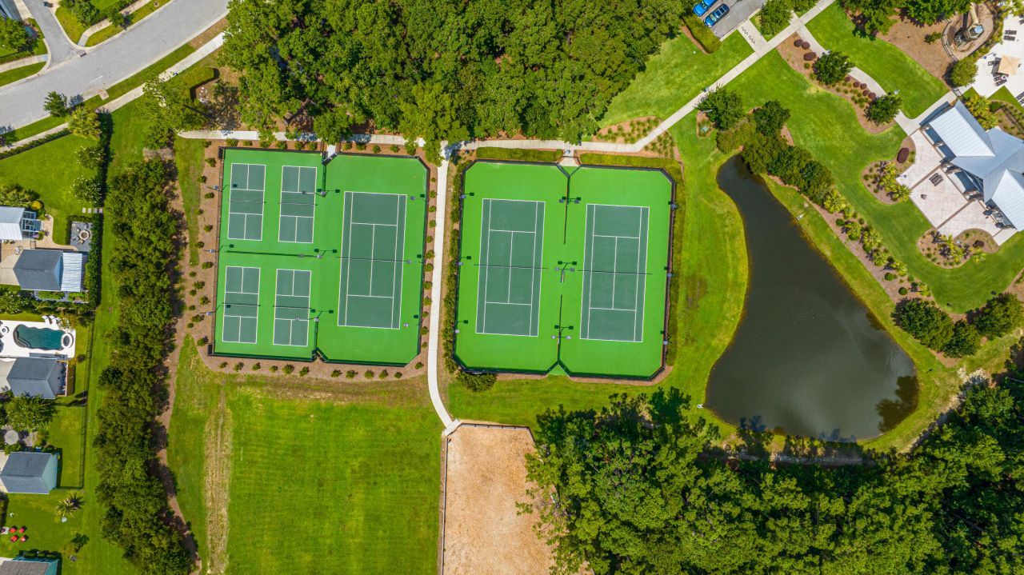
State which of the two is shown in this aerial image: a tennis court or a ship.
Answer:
tennis court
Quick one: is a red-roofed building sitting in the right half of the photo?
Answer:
No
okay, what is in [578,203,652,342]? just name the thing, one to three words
tennis court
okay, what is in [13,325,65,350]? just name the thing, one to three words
swimming pool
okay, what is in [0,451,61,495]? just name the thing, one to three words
building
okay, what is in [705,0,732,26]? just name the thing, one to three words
car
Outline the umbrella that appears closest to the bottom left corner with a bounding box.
[6,430,23,444]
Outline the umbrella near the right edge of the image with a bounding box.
[996,58,1016,74]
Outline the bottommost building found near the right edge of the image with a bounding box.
[920,99,1024,226]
